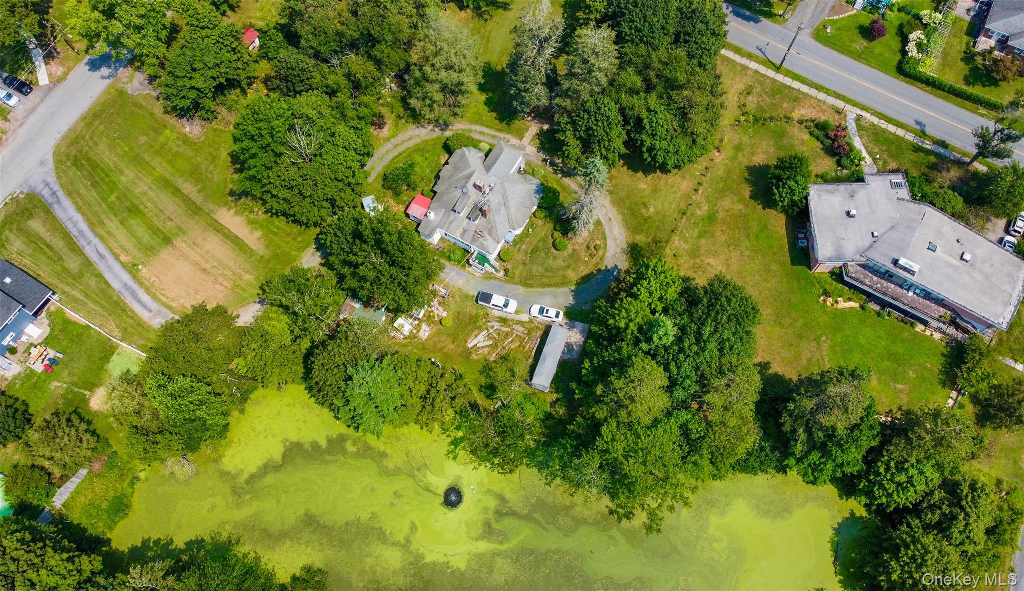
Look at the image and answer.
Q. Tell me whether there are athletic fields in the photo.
No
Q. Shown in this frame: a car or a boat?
car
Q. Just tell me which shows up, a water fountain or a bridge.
water fountain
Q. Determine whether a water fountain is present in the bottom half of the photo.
Yes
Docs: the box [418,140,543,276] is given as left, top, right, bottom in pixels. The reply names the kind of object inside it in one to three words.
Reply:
house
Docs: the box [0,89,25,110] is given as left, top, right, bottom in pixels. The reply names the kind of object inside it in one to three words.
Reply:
car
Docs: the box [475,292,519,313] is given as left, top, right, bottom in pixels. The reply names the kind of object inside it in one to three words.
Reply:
truck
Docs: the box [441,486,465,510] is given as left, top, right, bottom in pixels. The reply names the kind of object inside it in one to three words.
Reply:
fountain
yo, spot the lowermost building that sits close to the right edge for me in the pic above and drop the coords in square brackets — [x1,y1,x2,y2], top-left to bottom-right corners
[803,172,1024,349]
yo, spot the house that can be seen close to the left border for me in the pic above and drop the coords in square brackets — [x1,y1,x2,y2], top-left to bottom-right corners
[0,256,59,372]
